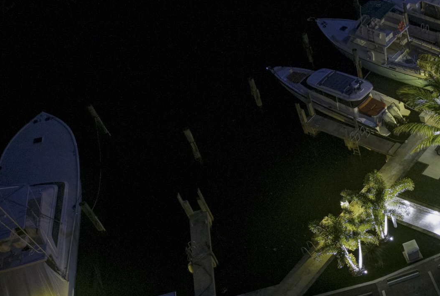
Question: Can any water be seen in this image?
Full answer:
Yes, water shows up in the scene.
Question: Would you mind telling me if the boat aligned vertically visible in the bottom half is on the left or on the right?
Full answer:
The boat aligned vertically visible in the bottom half appears in the left half of the scene.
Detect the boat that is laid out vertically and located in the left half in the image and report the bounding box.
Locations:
[0,83,90,296]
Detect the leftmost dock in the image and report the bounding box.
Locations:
[189,210,219,296]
